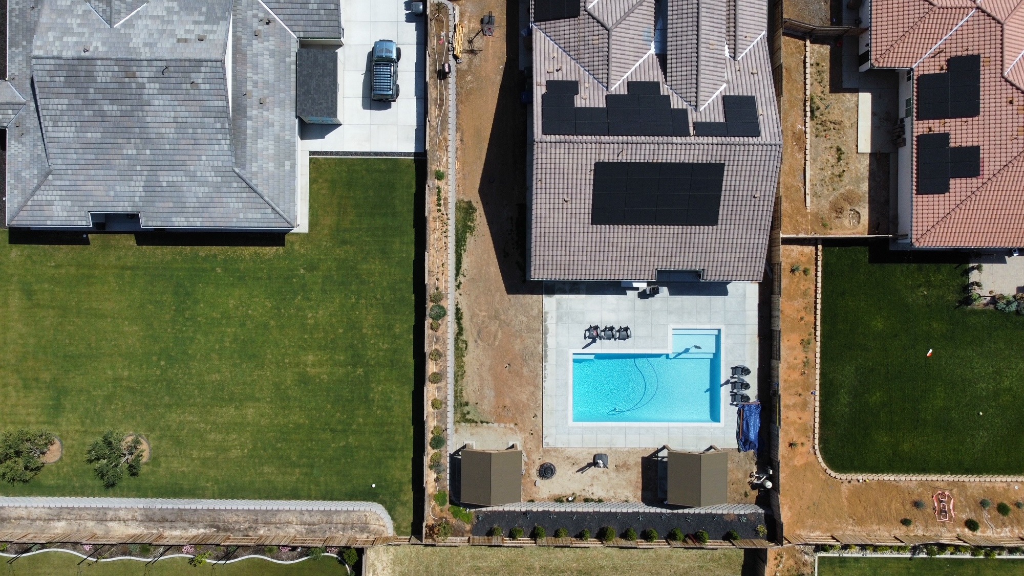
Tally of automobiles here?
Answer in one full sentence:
Only 1 automobile is visible.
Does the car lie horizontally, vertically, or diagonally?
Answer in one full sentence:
What the image shows is the car lying vertically.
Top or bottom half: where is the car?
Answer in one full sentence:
The car sits in the top half of the picture.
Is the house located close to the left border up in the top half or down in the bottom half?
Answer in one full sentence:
You can find the house located close to the left border in the top half.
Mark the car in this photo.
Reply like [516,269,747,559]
[371,38,403,102]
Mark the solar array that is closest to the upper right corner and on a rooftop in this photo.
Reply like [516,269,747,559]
[919,54,980,120]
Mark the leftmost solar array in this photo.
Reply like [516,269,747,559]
[535,0,580,20]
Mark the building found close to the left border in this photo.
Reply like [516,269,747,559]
[0,0,343,231]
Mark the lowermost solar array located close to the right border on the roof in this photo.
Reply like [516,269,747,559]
[918,133,980,195]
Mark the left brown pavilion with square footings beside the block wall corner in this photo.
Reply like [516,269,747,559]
[461,440,522,507]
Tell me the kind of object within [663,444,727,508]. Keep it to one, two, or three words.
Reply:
building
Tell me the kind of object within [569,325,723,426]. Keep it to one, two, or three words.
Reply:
swimming pool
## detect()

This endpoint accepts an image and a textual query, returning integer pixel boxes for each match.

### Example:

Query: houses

[0,0,343,231]
[529,0,784,284]
[859,0,1024,252]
